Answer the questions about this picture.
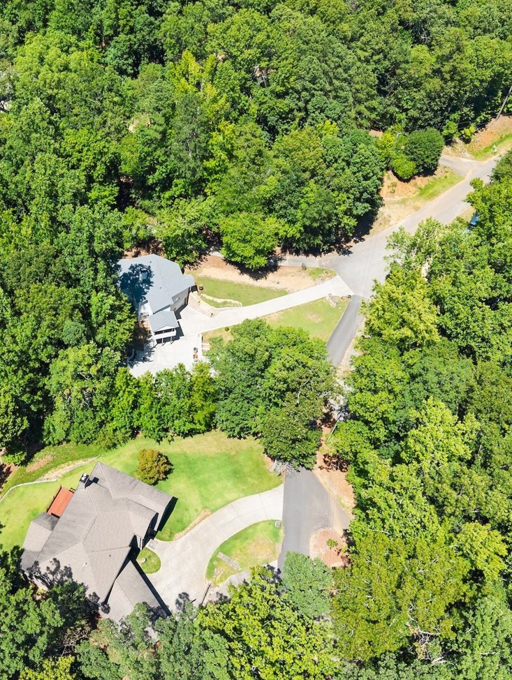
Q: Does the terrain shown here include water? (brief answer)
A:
No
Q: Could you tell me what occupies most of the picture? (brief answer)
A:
trees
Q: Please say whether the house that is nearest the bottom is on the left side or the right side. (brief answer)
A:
left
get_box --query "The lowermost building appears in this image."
[20,462,172,629]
